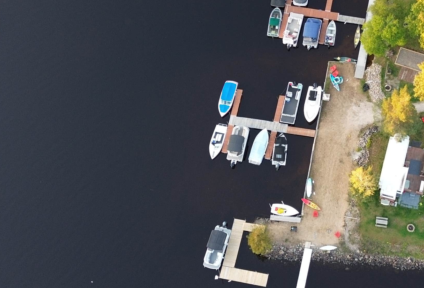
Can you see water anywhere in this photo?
Yes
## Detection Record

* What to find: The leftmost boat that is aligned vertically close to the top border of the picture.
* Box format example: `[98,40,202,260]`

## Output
[268,7,281,40]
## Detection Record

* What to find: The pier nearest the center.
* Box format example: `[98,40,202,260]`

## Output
[221,89,316,162]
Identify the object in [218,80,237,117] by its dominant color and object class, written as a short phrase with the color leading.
blue boat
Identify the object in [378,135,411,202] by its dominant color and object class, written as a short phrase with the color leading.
white vehicle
